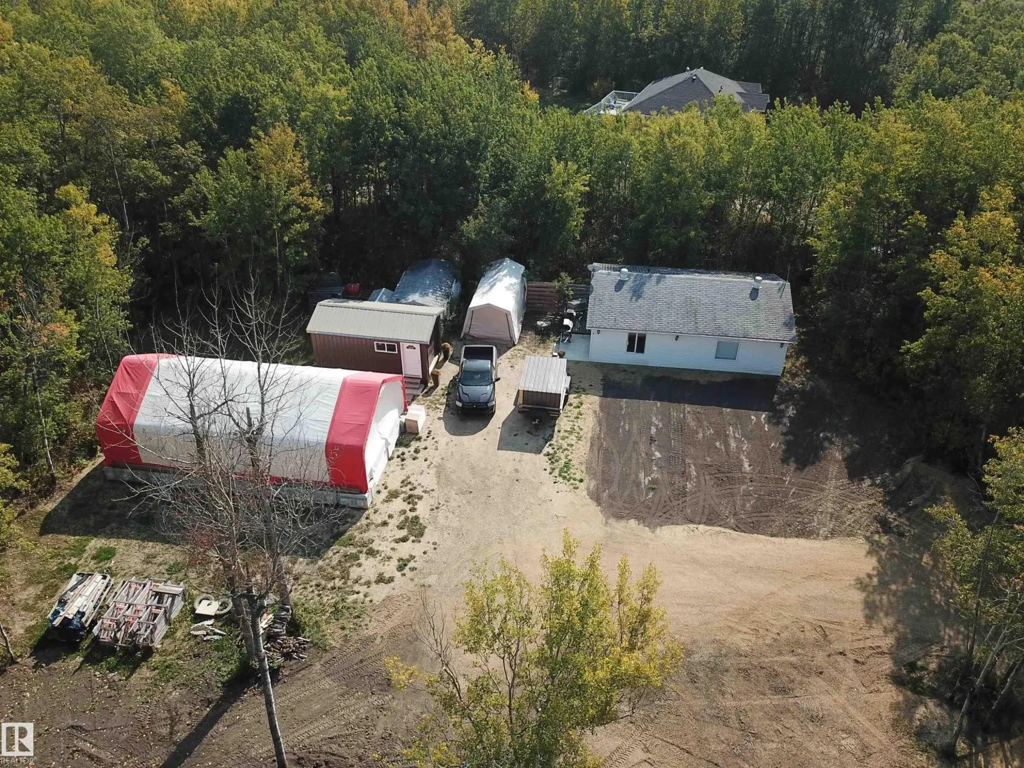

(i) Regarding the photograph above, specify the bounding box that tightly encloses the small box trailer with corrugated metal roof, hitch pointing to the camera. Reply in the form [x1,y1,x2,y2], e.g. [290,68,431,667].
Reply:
[519,355,574,433]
